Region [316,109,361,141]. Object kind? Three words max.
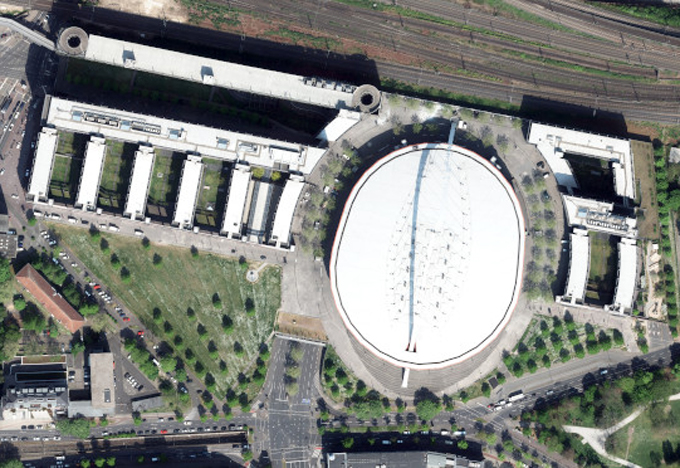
building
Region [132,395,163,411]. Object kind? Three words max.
building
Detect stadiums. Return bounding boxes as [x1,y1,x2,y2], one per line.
[331,117,526,390]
